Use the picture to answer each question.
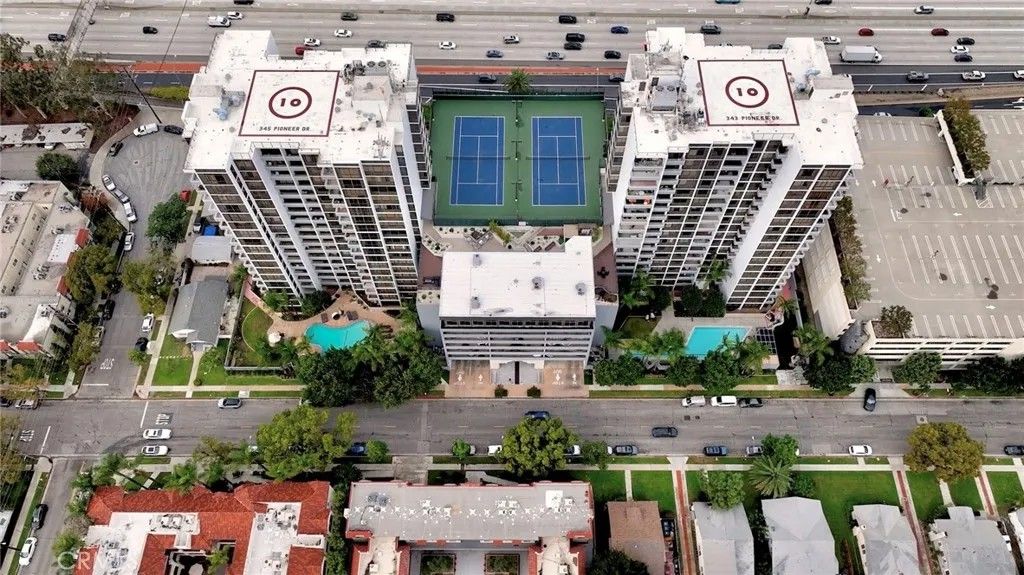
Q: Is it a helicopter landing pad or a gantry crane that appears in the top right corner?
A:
helicopter landing pad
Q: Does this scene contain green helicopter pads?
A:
No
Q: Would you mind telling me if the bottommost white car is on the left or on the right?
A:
left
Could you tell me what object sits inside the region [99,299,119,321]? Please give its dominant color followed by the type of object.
black car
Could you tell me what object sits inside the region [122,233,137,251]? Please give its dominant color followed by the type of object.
gray car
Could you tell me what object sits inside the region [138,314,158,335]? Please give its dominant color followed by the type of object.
white car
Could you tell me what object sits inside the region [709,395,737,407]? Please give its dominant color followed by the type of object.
white vehicle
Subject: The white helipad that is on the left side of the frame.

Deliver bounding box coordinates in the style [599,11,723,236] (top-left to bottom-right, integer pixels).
[240,71,339,137]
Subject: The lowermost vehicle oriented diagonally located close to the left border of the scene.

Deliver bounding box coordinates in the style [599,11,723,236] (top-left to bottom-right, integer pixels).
[16,535,41,565]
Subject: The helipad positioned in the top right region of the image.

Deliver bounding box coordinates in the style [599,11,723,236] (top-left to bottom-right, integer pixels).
[698,61,798,126]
